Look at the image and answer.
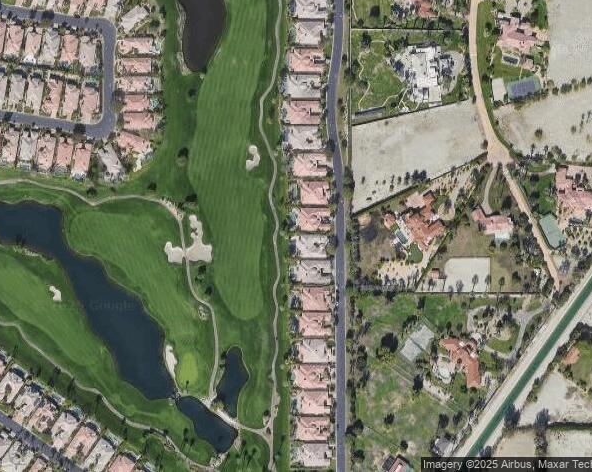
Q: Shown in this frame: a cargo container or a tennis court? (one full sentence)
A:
There is a tennis court in the scene.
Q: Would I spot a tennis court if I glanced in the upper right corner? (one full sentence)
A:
Yes, you'll find a tennis court in the upper right corner.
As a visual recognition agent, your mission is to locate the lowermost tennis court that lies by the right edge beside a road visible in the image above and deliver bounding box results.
[537,213,567,249]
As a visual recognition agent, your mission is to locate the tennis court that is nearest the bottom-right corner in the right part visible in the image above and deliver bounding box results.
[401,325,436,362]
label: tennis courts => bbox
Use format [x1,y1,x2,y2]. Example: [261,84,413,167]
[537,213,567,249]
[506,75,542,101]
[401,325,436,362]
